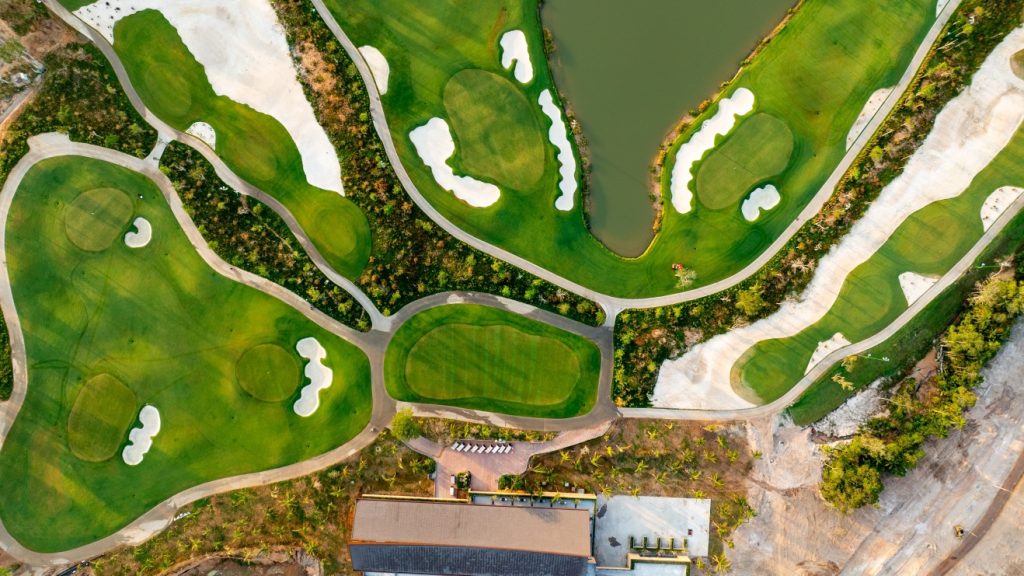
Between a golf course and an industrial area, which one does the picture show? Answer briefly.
golf course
